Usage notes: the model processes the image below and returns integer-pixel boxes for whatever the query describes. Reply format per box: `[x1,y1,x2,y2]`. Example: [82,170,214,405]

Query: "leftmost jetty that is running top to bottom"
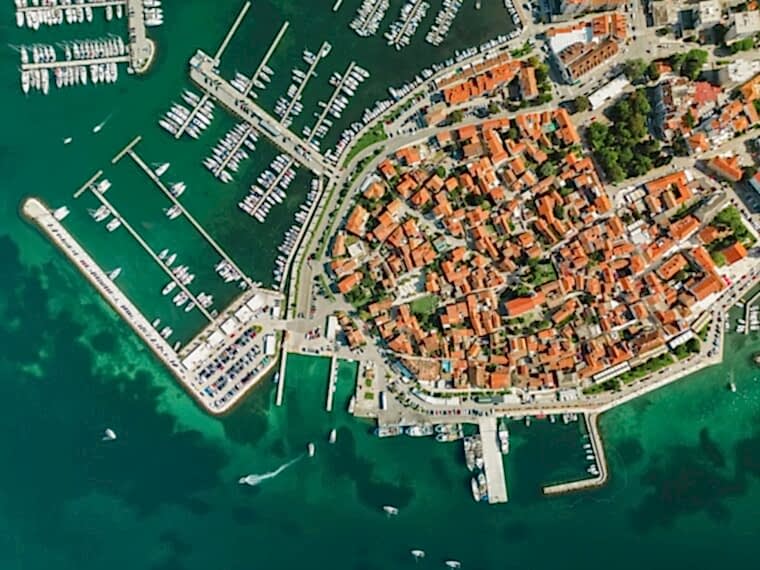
[128,0,157,74]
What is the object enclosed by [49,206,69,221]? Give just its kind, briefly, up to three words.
boat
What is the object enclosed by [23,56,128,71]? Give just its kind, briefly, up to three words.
pier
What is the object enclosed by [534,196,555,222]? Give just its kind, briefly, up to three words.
building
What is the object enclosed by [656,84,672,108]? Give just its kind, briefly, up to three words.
house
